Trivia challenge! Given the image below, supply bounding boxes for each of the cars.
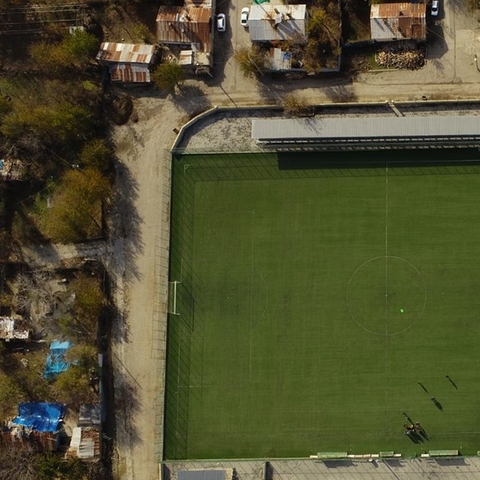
[217,14,226,31]
[430,0,439,17]
[240,7,250,27]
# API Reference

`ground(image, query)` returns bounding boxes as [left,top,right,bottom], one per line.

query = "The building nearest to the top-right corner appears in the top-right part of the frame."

[370,3,427,46]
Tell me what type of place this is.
sports ground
